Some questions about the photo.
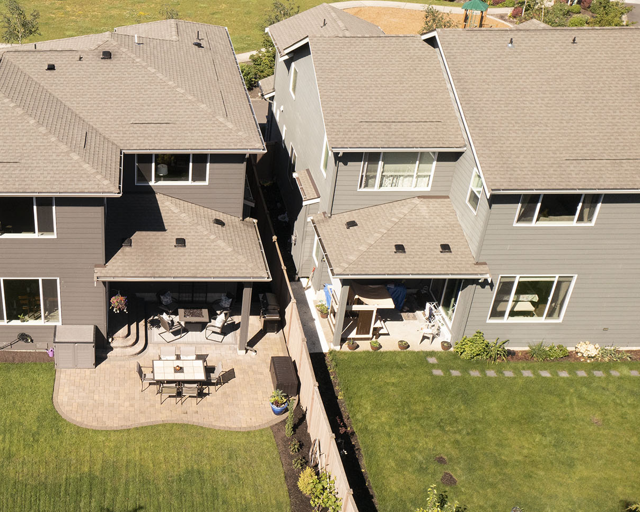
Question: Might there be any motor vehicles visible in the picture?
No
